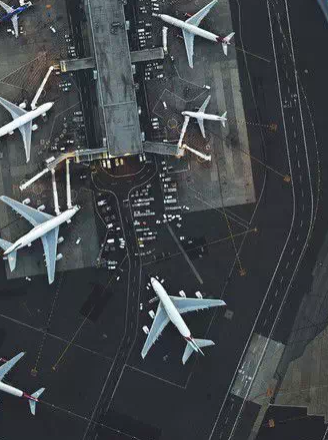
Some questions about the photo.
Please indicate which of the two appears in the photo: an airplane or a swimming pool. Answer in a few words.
airplane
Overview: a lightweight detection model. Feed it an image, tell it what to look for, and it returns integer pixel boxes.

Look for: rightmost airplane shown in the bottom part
[141,278,227,360]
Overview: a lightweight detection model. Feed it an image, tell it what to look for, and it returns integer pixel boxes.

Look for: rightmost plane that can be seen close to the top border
[159,0,234,67]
